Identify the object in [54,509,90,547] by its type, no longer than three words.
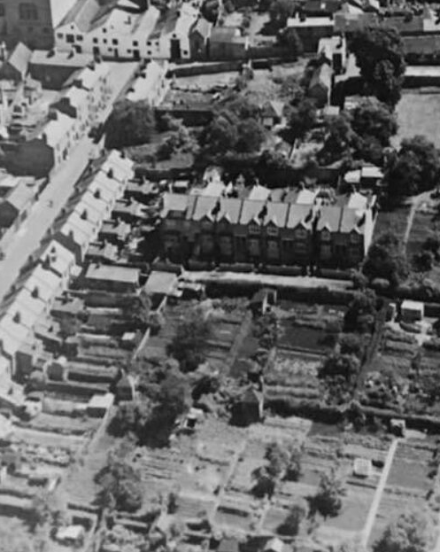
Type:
shed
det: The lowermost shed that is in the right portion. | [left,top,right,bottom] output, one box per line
[260,525,290,552]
